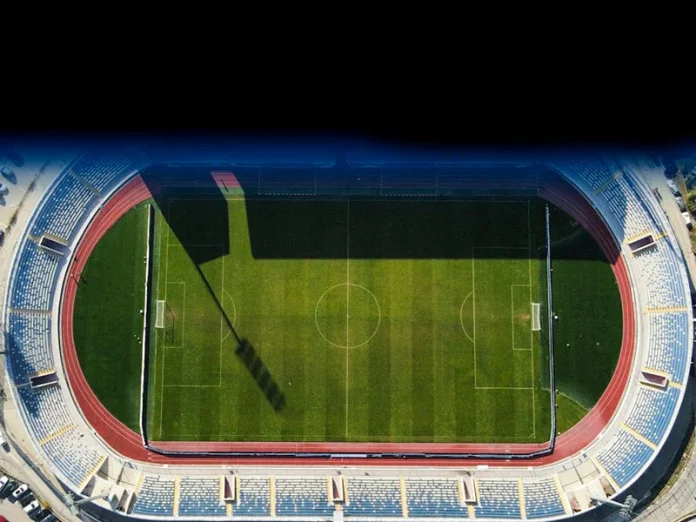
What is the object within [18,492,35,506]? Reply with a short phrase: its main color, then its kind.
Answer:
black vehicle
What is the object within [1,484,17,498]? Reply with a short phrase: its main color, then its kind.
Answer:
black vehicle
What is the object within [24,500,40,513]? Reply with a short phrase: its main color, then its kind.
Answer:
white vehicle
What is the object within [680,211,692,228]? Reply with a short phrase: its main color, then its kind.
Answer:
white vehicle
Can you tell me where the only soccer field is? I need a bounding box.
[149,196,546,445]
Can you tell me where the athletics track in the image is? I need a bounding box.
[61,169,636,468]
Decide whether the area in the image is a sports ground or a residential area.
sports ground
